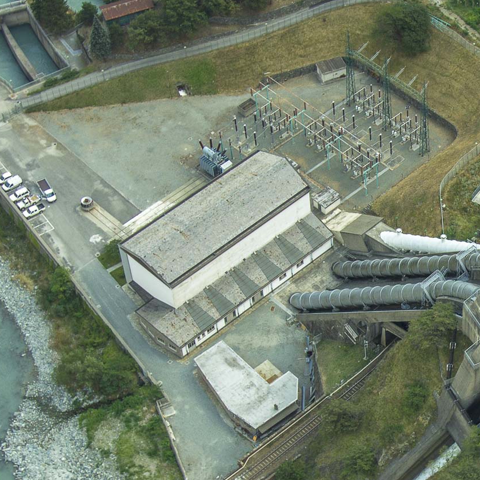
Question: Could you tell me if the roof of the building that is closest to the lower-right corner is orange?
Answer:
No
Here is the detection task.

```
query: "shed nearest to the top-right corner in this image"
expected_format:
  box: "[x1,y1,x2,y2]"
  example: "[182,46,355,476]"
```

[316,57,345,81]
